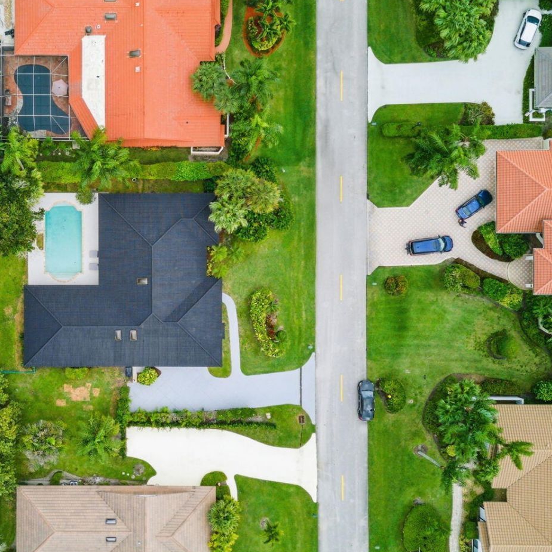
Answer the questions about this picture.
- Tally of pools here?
2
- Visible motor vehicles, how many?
4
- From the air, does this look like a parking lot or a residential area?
residential area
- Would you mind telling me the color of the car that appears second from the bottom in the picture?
blue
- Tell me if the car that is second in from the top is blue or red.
blue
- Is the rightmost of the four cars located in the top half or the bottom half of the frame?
top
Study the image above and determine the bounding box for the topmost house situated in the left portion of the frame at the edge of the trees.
[13,0,226,148]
